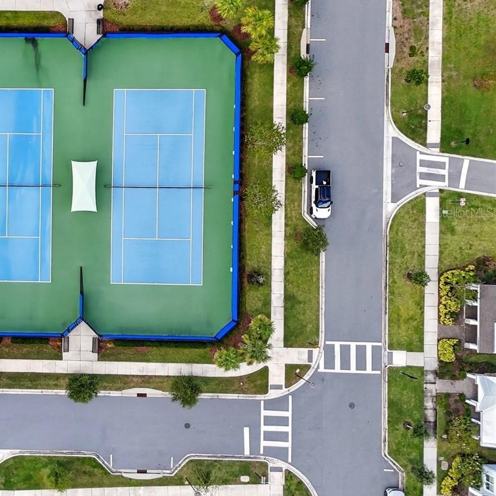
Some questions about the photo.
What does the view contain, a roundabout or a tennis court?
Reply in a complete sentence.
There is a tennis court in the scene.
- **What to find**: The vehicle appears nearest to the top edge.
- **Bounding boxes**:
[311,170,333,218]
